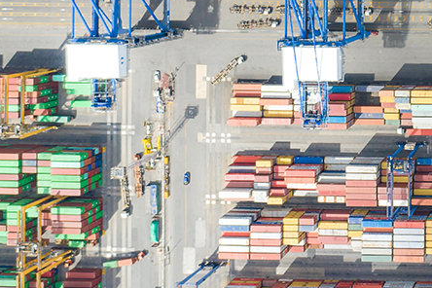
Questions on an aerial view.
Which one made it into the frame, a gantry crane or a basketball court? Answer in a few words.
gantry crane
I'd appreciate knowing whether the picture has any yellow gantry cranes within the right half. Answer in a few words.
No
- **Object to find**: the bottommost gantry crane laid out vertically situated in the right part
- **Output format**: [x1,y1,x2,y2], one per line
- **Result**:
[385,139,427,223]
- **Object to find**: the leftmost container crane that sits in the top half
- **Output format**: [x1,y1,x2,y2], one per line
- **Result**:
[1,64,70,135]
